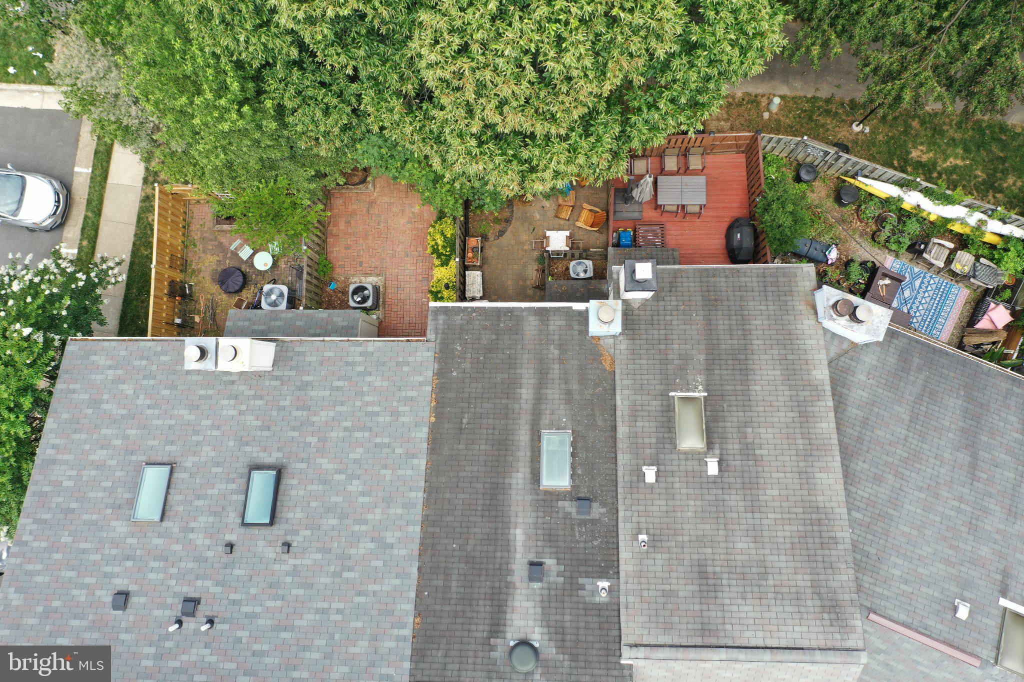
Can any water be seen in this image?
No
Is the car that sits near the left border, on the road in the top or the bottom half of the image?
top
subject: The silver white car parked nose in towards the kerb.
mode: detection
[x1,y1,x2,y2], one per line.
[0,165,71,229]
